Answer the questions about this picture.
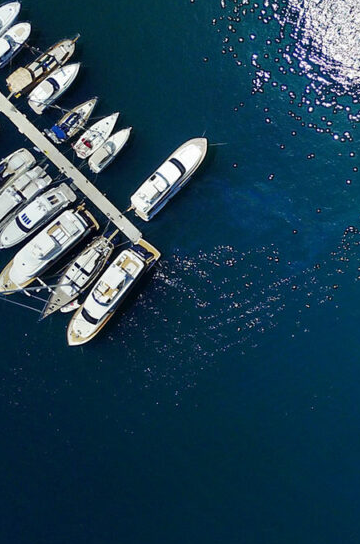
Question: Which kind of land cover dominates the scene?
water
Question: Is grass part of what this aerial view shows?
No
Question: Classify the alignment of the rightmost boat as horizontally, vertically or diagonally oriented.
diagonally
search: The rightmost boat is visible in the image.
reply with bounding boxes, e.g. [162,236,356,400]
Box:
[126,130,224,222]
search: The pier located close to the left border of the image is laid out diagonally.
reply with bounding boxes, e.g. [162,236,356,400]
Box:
[0,92,144,240]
